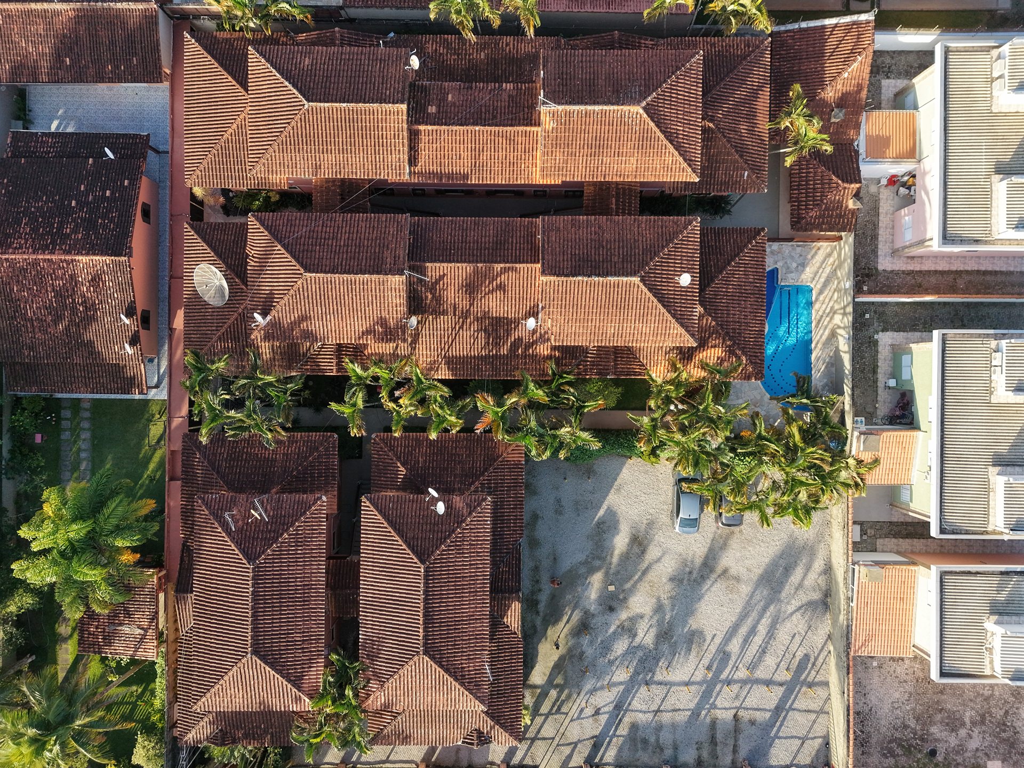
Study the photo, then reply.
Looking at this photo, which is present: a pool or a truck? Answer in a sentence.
I can see a pool in this picture.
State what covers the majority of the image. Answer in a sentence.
The largest share of the image is taken up by buildings.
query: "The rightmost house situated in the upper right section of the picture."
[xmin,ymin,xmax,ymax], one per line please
[891,39,1024,255]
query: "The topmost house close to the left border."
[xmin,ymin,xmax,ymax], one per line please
[0,3,166,87]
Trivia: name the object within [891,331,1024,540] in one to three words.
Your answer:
house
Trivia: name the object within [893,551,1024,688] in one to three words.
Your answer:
house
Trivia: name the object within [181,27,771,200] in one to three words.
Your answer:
building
